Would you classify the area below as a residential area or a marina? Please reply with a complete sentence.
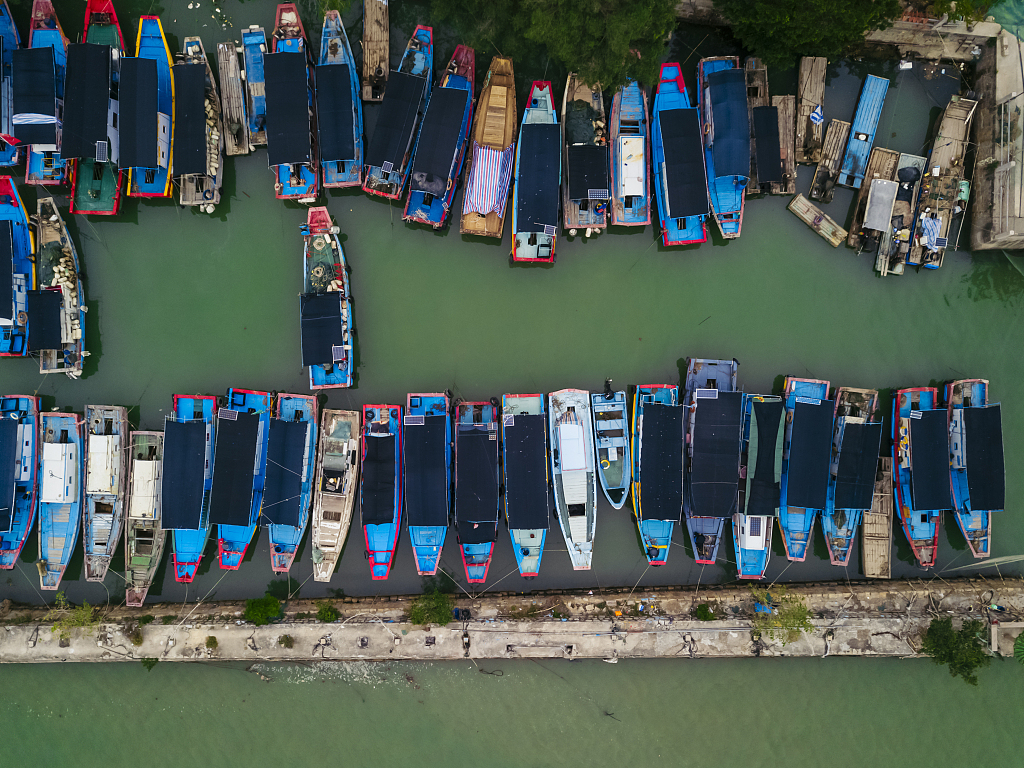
This image shows a marina.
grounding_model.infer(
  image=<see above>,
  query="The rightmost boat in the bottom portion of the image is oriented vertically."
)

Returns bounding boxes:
[940,379,1005,557]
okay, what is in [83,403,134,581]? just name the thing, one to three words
boat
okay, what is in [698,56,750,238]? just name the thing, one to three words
boat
